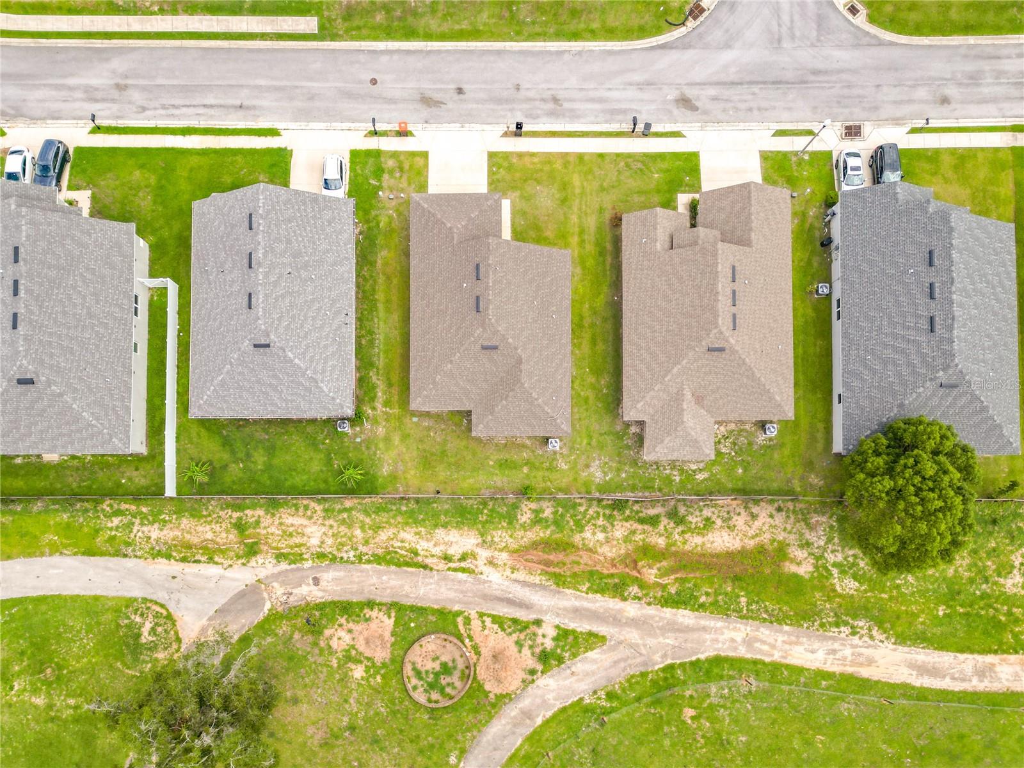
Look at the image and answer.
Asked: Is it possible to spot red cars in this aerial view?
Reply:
No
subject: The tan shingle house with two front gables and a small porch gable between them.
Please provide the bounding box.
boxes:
[622,183,795,461]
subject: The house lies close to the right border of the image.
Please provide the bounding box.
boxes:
[829,181,1021,456]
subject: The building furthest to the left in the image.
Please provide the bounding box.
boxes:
[0,180,148,455]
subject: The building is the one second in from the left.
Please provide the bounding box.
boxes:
[187,183,357,420]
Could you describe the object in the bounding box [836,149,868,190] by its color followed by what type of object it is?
white car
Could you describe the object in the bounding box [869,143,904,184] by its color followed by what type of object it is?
gray car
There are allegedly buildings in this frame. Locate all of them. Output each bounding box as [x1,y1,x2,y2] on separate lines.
[187,183,357,420]
[0,180,148,455]
[409,192,571,438]
[829,181,1021,456]
[622,183,795,461]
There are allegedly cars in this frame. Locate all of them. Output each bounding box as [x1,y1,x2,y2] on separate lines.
[1,146,36,184]
[836,149,868,190]
[31,139,72,195]
[869,143,904,184]
[322,153,350,198]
